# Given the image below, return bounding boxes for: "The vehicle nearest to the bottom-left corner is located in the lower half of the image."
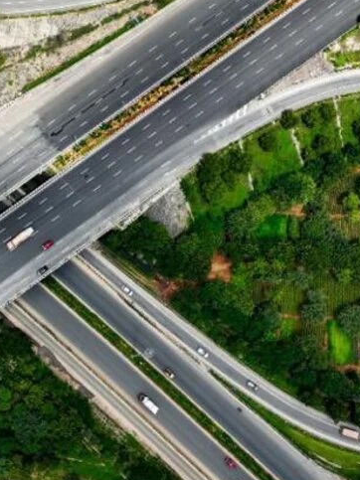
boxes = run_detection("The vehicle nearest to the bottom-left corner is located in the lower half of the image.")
[139,393,162,414]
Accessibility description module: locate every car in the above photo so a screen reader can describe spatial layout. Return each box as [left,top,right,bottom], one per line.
[225,458,238,470]
[246,380,260,391]
[121,284,133,295]
[36,264,50,276]
[163,367,175,379]
[198,347,210,358]
[41,240,54,250]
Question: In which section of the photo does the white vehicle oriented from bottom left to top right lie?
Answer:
left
